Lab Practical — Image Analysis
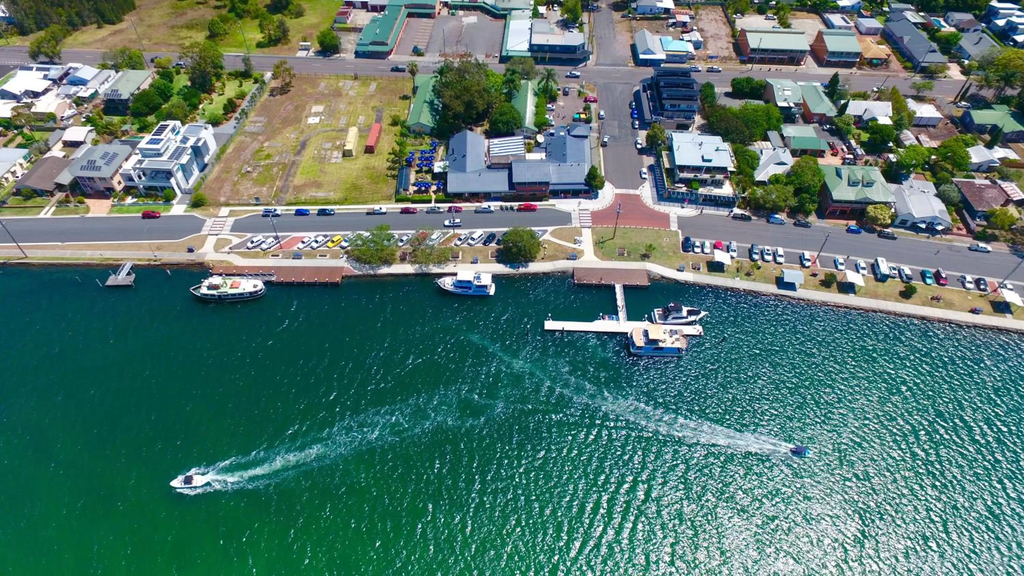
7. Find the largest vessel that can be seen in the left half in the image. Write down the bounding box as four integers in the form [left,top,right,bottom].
[182,272,267,299]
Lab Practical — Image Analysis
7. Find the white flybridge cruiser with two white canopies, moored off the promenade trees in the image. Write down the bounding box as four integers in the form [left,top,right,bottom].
[433,266,496,295]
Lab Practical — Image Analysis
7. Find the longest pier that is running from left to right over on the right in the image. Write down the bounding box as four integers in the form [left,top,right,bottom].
[545,313,703,337]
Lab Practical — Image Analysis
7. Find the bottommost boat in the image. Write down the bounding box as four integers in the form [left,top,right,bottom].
[168,473,204,486]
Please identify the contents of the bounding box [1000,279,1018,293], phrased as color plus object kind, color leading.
white car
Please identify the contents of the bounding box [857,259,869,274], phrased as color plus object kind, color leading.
white vehicle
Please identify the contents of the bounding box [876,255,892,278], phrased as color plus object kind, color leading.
white camper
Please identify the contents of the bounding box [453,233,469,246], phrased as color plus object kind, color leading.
white vehicle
